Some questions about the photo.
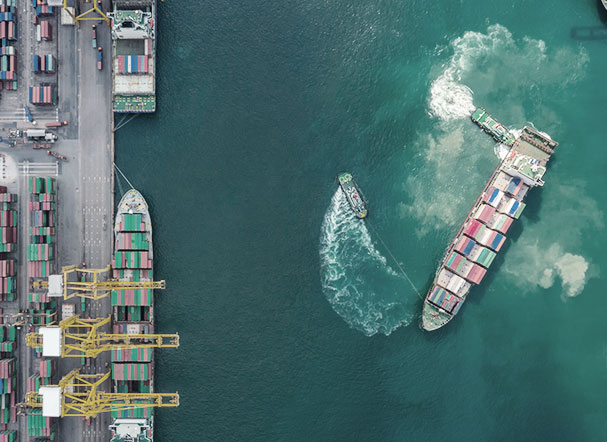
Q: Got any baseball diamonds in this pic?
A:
No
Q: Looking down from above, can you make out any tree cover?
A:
No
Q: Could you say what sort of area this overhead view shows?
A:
port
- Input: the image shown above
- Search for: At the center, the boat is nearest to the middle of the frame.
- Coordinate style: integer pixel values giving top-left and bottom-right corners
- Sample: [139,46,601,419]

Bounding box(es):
[338,171,367,217]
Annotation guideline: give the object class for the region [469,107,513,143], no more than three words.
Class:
boat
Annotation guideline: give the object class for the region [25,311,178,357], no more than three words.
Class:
container crane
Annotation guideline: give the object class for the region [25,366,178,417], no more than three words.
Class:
container crane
